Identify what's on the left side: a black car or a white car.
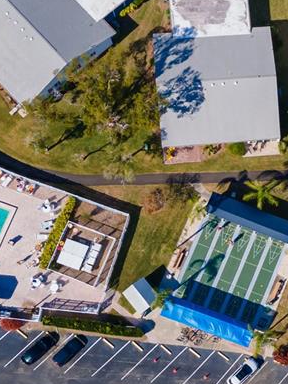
black car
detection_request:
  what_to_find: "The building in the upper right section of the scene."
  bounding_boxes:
[153,0,280,149]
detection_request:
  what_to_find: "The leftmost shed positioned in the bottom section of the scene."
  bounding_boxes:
[123,277,155,314]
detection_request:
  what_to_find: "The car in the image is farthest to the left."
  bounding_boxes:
[24,332,57,363]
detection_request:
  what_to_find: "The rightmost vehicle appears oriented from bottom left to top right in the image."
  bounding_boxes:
[229,358,260,384]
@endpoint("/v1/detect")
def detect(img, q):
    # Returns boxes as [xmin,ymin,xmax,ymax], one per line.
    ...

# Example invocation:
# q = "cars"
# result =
[229,358,260,384]
[53,335,85,367]
[24,332,57,363]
